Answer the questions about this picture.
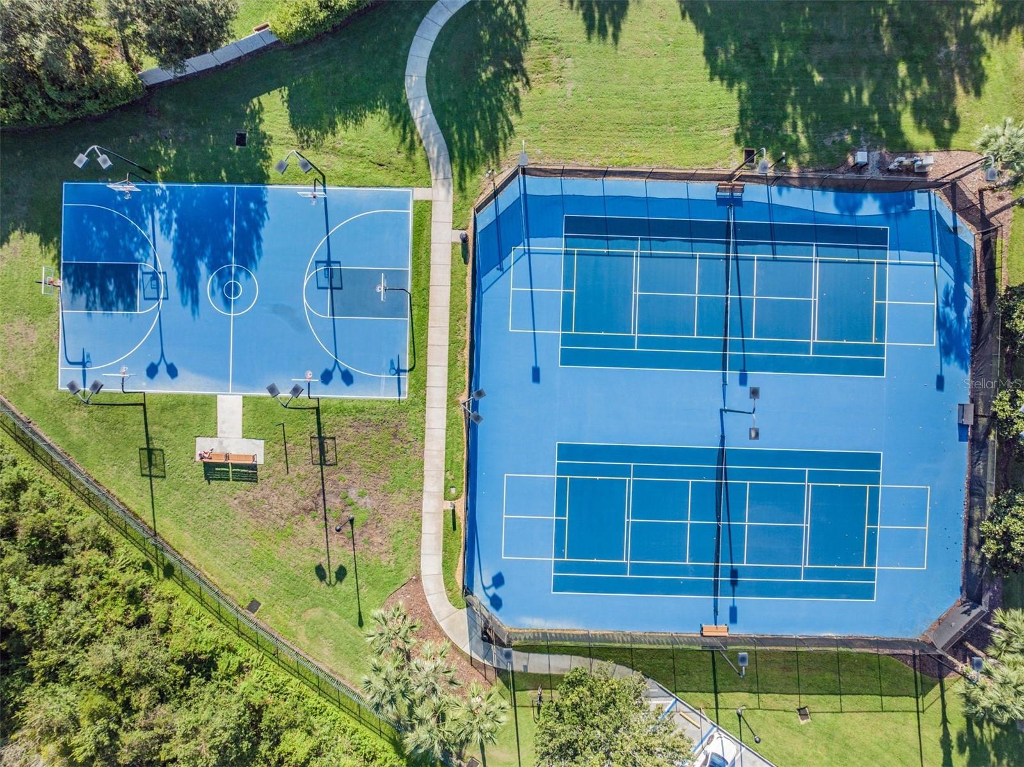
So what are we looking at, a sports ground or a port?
sports ground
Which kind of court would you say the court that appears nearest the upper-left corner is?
basketball court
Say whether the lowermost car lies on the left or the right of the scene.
right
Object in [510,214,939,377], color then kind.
blue tennis court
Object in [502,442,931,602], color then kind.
blue tennis court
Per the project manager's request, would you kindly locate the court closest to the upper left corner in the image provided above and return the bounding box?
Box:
[57,181,413,400]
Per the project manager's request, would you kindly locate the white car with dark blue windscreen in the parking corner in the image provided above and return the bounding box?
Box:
[682,731,733,767]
